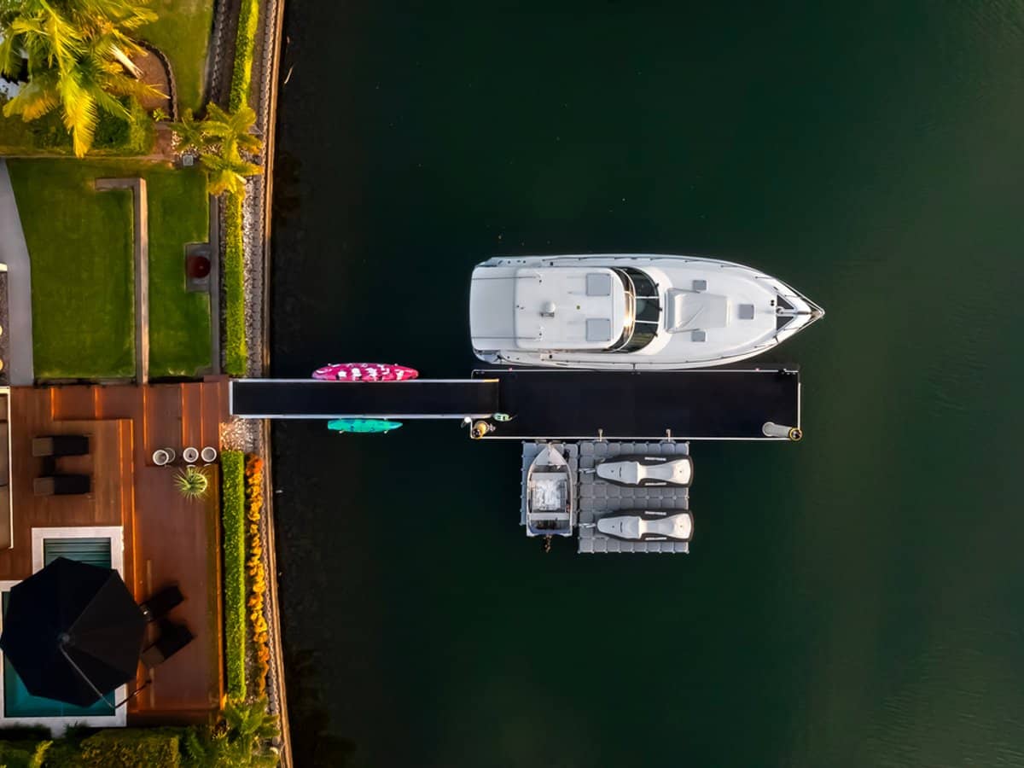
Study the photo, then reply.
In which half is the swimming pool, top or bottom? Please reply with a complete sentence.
The swimming pool is in the bottom half of the image.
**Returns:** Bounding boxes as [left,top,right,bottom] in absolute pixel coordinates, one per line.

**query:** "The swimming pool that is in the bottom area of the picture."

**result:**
[0,525,134,739]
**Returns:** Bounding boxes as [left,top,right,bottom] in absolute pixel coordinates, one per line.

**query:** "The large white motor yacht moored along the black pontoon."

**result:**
[470,253,825,370]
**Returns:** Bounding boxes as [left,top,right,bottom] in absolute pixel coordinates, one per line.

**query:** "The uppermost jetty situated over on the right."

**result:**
[471,368,801,440]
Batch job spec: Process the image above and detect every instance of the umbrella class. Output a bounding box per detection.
[2,557,153,710]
